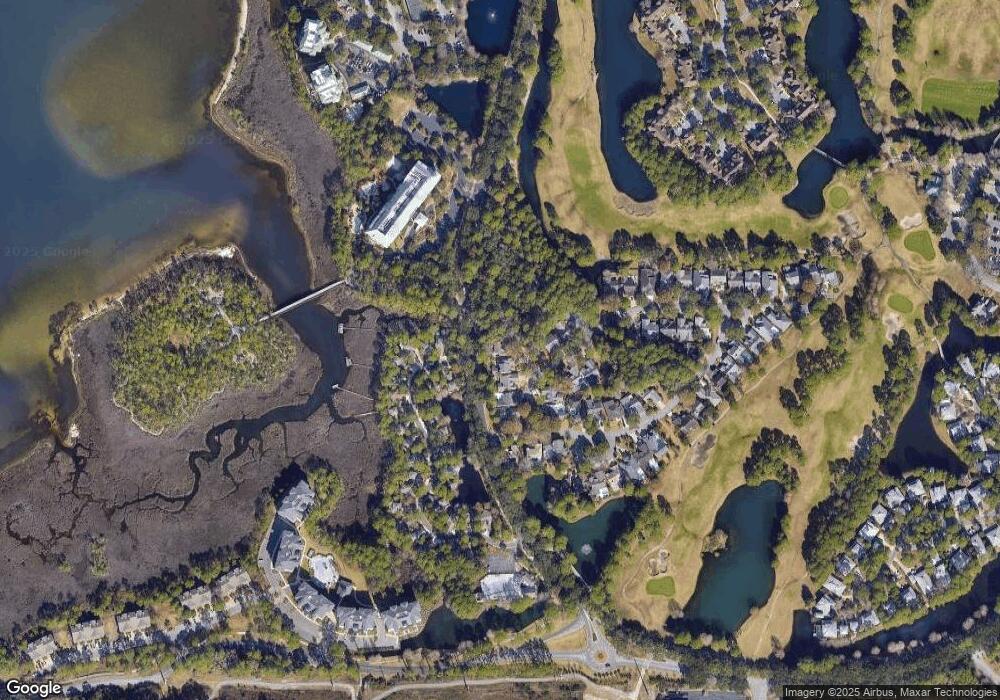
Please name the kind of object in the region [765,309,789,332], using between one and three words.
house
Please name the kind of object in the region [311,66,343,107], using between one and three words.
building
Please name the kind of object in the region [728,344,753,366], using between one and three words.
house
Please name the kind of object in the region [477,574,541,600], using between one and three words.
building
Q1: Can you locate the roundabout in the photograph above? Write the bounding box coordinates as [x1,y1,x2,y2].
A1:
[550,608,644,674]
